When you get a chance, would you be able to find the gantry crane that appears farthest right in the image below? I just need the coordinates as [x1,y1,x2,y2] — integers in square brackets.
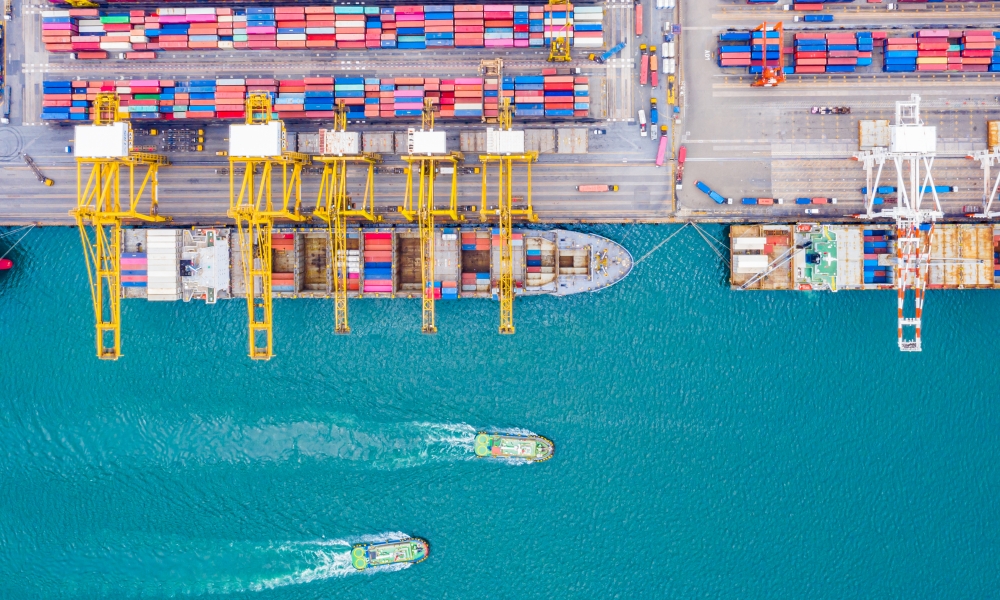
[964,148,1000,215]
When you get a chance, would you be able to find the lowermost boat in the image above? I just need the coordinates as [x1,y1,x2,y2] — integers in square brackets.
[350,539,431,572]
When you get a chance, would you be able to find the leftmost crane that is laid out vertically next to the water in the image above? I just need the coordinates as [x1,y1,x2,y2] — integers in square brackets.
[71,93,176,361]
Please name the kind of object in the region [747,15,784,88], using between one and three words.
container crane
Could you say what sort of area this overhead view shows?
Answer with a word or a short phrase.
port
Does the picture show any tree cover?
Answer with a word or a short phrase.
No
